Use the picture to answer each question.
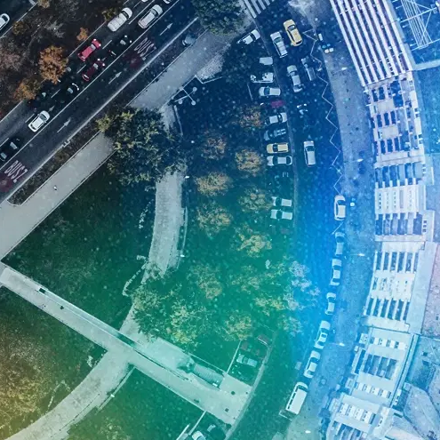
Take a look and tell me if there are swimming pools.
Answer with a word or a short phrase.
No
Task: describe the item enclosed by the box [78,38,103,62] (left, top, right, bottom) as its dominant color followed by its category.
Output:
red car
